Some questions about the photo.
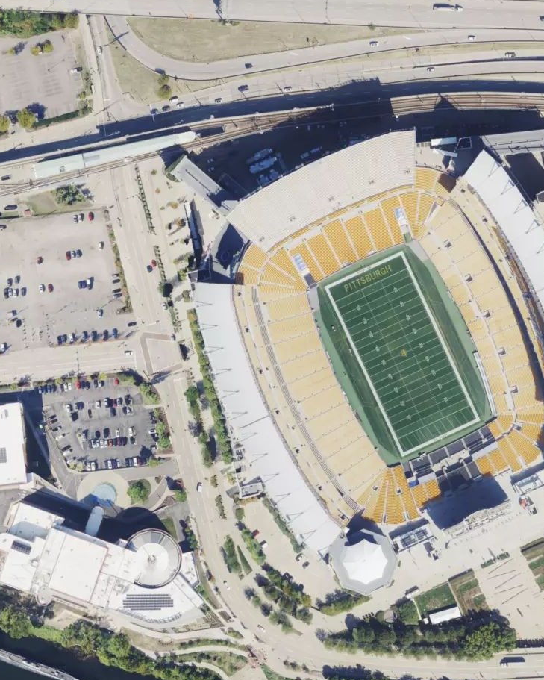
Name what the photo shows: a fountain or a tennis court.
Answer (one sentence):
I can see a fountain in this picture.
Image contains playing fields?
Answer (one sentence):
Yes, the picture does show a playing field.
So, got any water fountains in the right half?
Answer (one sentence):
No, no water fountain is visible in the right half.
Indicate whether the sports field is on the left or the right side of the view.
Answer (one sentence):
The sports field appears in the right half of the scene.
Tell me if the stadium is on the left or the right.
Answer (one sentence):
The stadium sits on the right side.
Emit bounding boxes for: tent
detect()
[430,607,461,624]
